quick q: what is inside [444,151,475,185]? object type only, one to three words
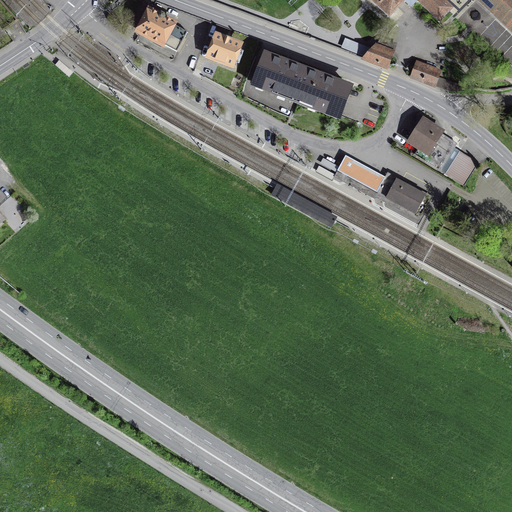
building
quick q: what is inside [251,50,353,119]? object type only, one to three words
building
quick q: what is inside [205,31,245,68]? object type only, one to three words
house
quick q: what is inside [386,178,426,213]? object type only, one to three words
house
